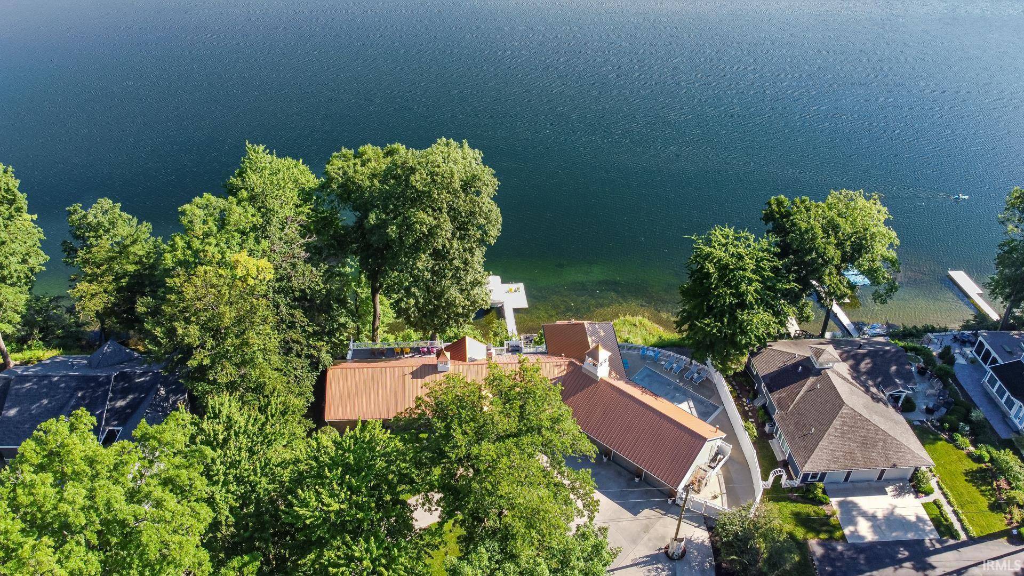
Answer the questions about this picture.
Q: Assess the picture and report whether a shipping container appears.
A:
No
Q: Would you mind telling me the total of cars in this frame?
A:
0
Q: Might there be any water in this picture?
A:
Yes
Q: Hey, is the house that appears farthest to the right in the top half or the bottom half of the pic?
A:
bottom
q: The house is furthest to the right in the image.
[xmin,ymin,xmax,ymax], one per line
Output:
[972,326,1024,441]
